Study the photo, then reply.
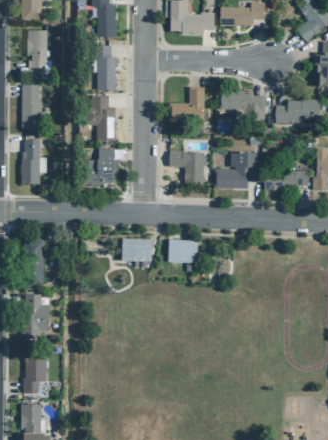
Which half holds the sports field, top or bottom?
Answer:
bottom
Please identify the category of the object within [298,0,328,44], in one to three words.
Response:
house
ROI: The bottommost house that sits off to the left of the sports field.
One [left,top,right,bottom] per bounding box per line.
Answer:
[21,404,50,440]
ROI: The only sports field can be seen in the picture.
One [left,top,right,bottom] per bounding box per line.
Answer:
[82,239,328,440]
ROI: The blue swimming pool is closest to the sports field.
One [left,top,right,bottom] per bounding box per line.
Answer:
[44,405,58,424]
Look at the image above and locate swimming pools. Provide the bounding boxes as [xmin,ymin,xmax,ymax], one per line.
[188,144,207,152]
[44,405,58,424]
